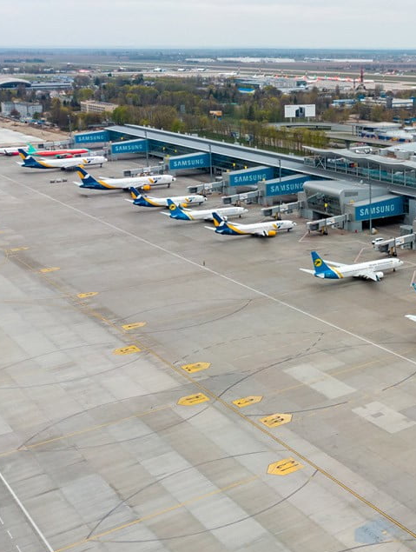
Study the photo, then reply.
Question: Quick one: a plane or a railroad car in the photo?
plane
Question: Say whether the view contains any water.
No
